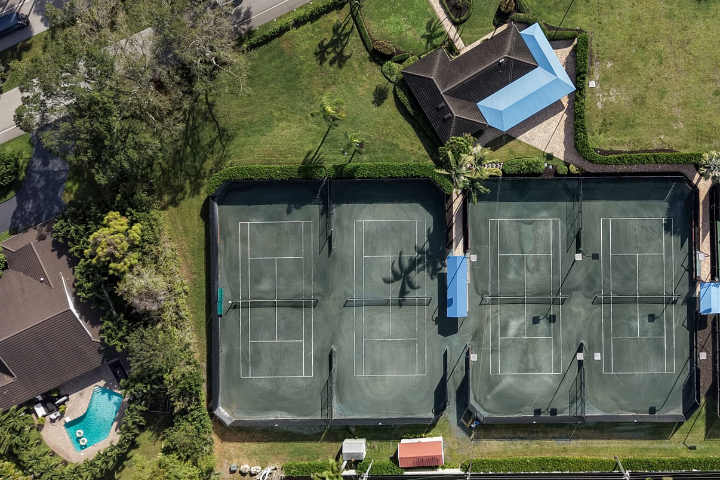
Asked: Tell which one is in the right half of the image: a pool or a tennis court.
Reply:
tennis court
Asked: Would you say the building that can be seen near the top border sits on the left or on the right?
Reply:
right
